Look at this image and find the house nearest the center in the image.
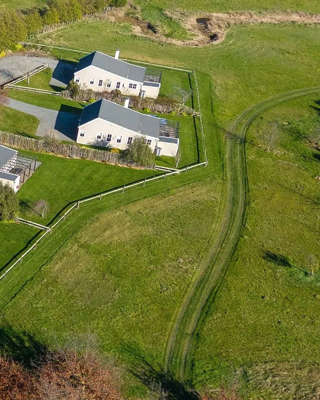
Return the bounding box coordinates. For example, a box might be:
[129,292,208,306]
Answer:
[76,93,179,156]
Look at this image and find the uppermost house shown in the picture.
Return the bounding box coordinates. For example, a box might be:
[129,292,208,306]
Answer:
[73,45,163,98]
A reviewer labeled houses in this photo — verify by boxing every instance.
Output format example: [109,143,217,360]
[76,93,179,156]
[0,145,39,192]
[73,45,163,98]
